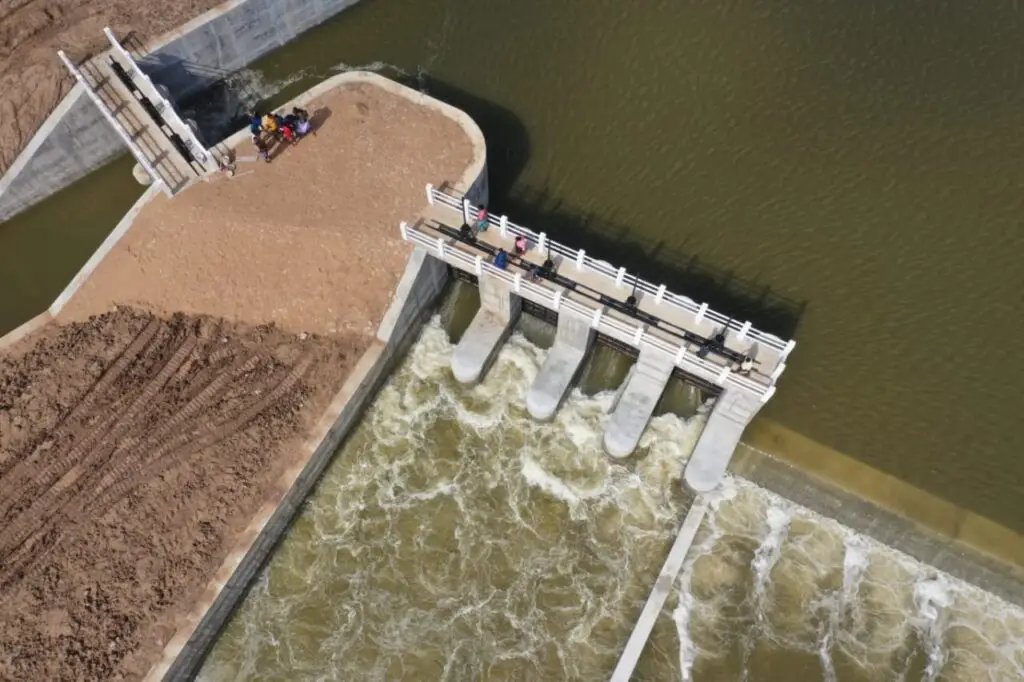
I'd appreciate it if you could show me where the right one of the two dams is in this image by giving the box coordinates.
[728,445,1024,608]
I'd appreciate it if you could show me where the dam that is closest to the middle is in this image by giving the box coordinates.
[399,180,798,498]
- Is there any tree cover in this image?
No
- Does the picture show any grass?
No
